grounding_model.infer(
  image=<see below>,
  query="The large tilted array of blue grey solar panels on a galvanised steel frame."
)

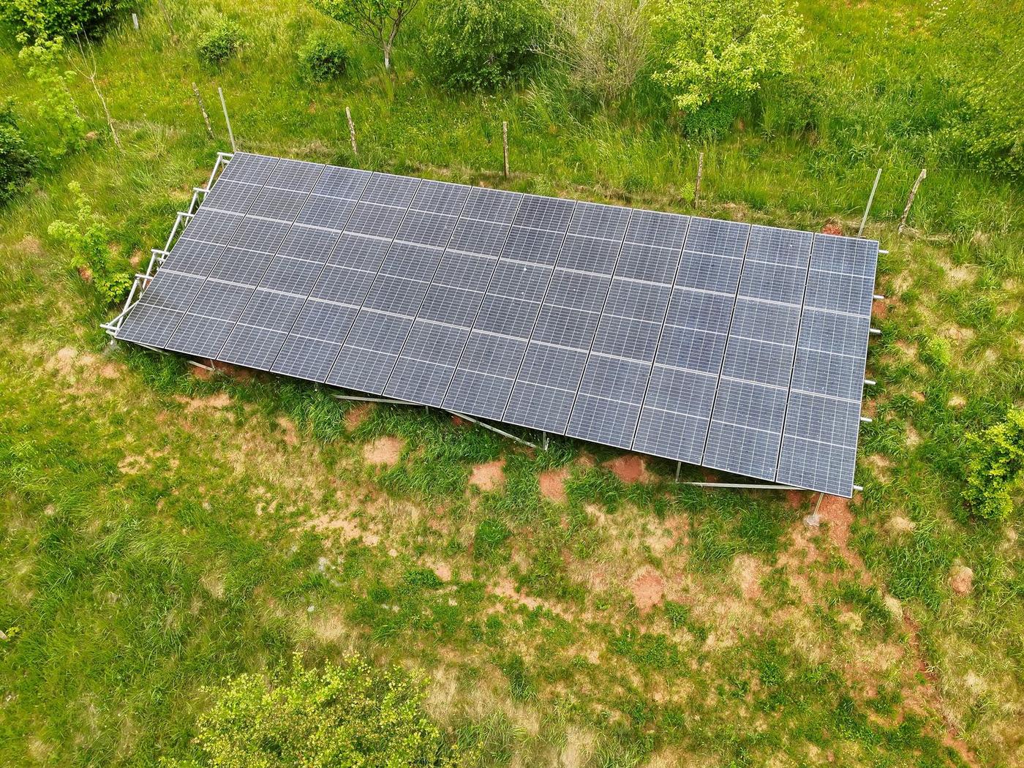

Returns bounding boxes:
[105,152,887,523]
